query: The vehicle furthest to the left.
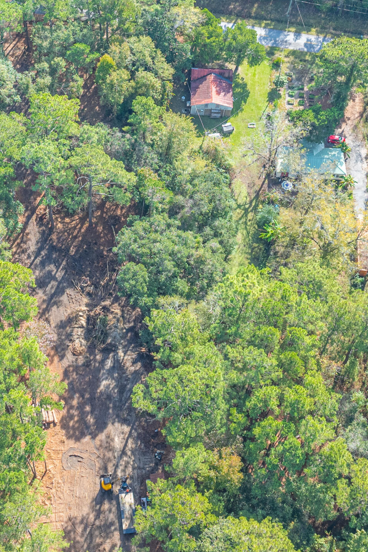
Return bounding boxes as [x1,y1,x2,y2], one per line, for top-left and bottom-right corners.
[100,472,125,493]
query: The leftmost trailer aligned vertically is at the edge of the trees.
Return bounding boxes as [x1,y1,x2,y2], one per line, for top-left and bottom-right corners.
[118,480,137,534]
